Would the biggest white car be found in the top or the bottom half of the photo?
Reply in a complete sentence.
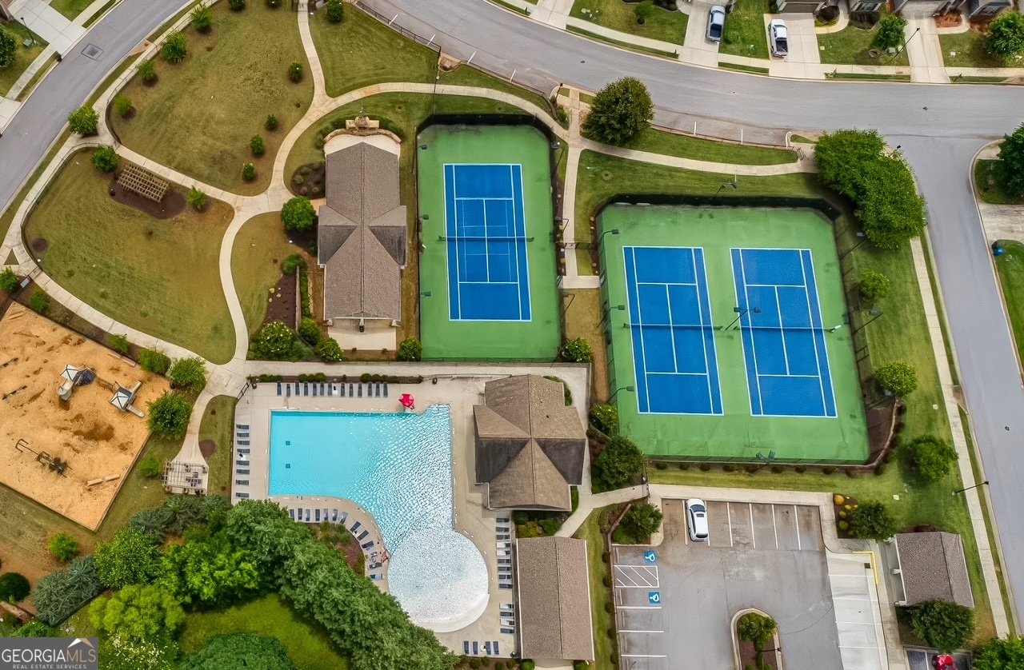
You can find the biggest white car in the bottom half.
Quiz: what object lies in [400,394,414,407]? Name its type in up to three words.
umbrella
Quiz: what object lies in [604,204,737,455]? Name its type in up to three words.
tennis court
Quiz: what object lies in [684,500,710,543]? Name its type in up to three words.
car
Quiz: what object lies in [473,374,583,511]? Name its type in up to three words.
building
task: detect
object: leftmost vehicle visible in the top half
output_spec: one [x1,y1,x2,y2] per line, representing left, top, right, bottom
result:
[707,7,726,42]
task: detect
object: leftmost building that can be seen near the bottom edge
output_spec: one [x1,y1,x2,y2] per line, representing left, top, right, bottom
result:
[515,536,596,662]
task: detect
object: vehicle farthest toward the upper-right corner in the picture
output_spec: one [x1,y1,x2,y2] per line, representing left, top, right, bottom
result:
[769,22,788,57]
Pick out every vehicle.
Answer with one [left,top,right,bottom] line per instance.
[684,500,710,543]
[930,652,954,670]
[707,7,726,42]
[769,22,788,57]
